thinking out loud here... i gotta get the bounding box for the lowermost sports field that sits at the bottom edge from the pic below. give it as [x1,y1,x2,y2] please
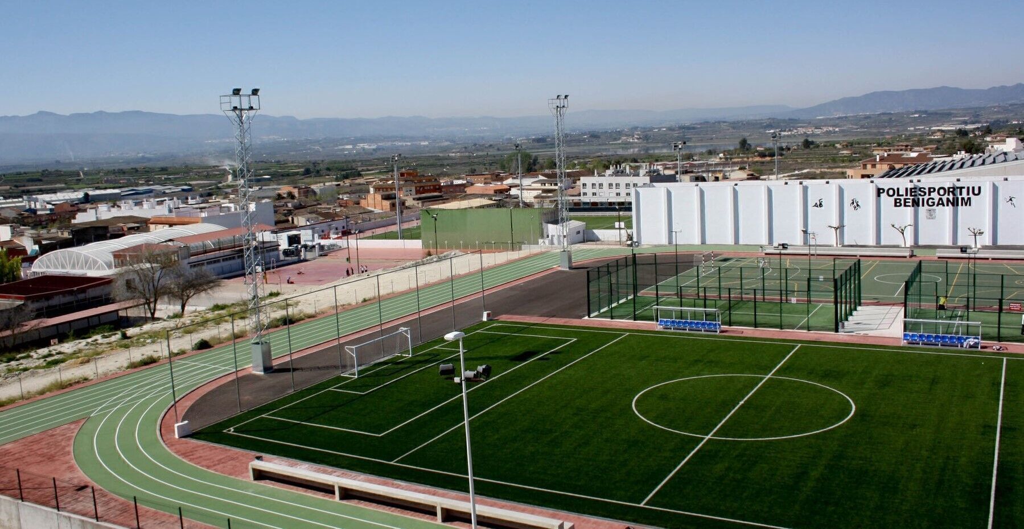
[175,318,1024,529]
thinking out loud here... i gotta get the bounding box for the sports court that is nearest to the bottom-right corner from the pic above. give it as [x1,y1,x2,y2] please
[904,259,1024,343]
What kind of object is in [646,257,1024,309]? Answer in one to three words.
sports court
